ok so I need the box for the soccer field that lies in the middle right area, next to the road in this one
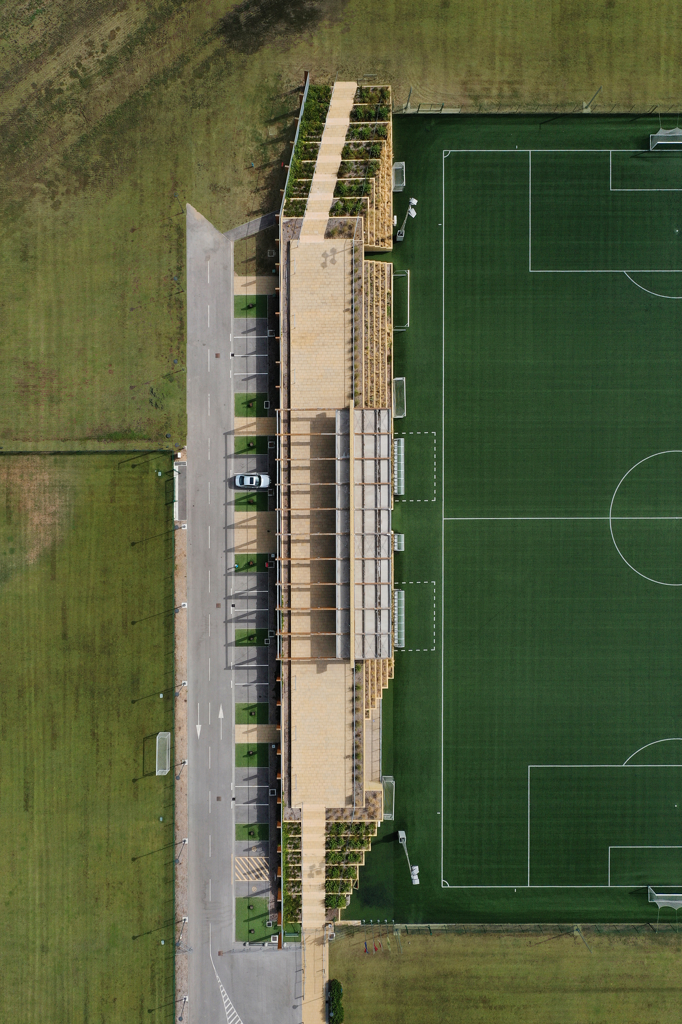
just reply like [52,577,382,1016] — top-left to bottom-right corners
[340,113,682,923]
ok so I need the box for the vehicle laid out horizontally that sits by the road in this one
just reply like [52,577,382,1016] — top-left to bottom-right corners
[235,473,271,489]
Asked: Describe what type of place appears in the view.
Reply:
sports ground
